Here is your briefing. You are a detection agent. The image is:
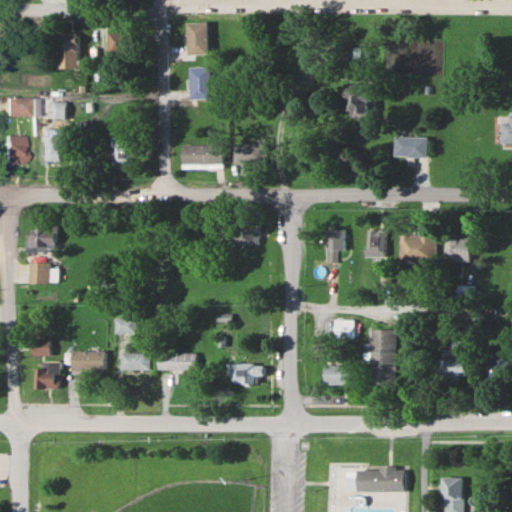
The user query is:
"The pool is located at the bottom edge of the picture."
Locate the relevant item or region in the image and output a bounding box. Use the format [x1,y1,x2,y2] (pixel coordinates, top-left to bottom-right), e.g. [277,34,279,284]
[328,464,409,512]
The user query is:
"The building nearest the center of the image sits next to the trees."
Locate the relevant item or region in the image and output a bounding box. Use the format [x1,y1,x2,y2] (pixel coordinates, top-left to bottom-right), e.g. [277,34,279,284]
[232,230,262,246]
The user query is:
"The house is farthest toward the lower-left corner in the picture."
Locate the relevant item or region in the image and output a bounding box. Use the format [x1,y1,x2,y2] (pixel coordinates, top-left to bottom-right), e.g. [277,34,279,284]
[34,364,60,390]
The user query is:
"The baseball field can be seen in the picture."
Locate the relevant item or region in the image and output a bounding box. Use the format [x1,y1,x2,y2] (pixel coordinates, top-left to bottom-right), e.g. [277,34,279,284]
[108,480,256,512]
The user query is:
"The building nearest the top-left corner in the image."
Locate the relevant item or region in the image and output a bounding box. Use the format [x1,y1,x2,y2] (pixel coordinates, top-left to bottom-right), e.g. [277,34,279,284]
[58,37,78,70]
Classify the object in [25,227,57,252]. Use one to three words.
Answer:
house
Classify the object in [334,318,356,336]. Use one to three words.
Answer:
building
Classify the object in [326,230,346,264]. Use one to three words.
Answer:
house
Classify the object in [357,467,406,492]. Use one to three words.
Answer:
building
